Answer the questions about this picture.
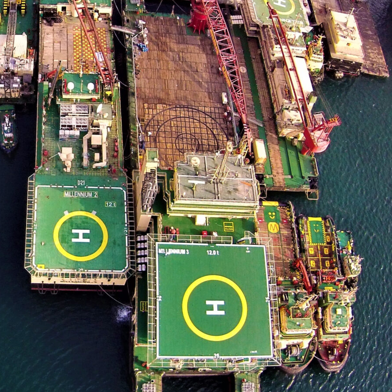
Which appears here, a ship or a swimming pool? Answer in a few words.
ship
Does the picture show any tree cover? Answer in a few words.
No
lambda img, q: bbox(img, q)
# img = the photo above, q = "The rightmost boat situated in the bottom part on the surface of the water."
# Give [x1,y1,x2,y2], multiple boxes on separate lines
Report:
[332,227,366,293]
